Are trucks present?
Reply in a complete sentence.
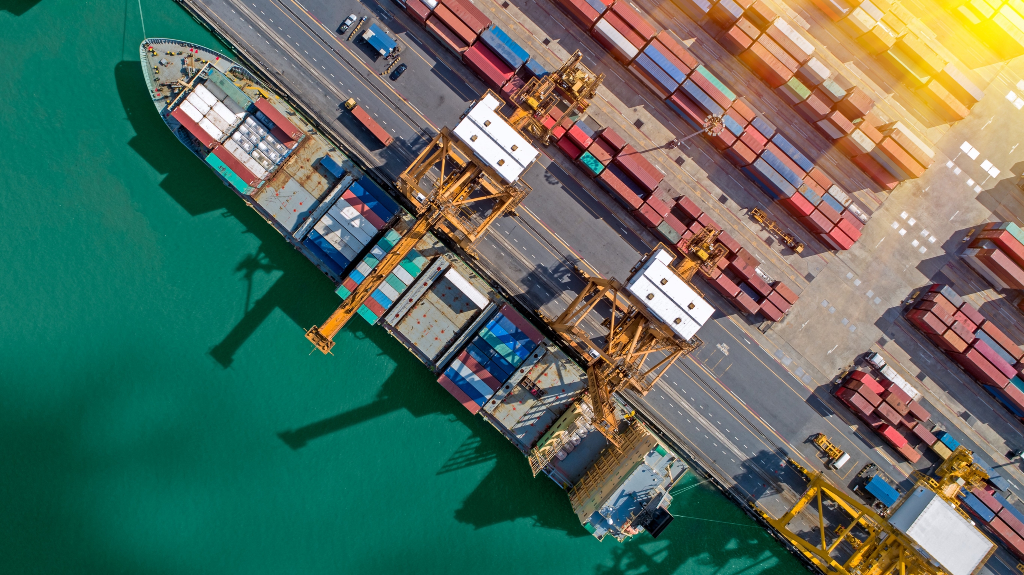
Yes, I can see a truck in this picture.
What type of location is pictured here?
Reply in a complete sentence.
This looks like a port.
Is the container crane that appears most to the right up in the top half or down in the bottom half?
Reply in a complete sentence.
Seen from above, the container crane that appears most to the right lies in the bottom half of the view.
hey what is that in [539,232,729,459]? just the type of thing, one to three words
container crane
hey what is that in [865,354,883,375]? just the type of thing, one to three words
vehicle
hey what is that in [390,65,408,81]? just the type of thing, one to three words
car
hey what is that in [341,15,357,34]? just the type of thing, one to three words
vehicle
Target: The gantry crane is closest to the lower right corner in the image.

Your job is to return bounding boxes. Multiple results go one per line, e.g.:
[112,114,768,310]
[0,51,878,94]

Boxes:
[752,435,997,575]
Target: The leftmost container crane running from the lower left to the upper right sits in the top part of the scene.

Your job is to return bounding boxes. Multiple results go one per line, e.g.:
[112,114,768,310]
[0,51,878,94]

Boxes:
[297,77,557,362]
